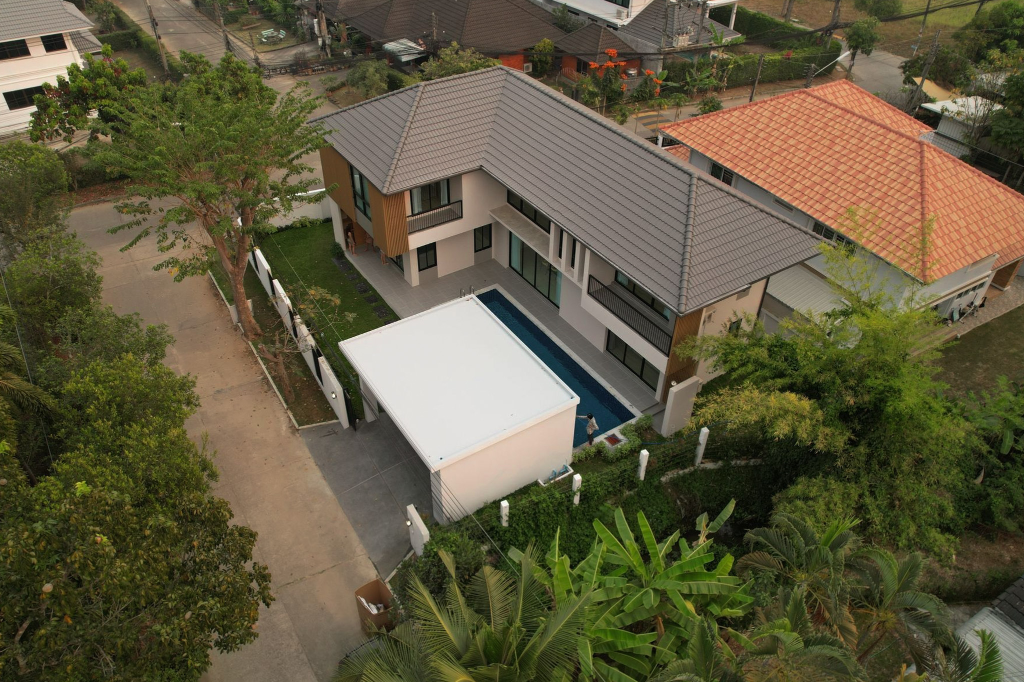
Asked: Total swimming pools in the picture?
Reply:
1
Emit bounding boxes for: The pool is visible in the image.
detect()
[419,283,648,456]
